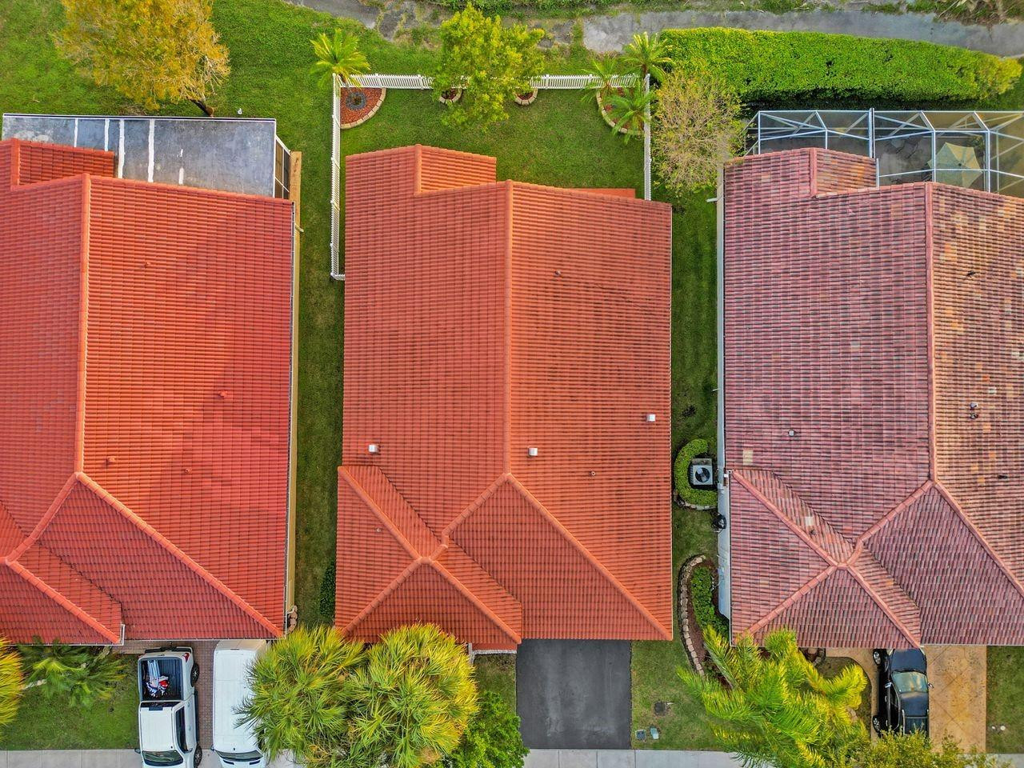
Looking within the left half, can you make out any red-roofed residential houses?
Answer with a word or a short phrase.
Yes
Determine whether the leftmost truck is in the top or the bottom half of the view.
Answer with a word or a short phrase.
bottom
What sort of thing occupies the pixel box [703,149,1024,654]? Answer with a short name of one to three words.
house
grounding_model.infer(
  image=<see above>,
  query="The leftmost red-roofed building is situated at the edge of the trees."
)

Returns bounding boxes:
[0,138,312,644]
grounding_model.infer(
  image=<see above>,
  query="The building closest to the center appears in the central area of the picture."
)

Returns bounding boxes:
[332,142,674,646]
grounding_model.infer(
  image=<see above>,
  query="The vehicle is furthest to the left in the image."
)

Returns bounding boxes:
[133,643,203,768]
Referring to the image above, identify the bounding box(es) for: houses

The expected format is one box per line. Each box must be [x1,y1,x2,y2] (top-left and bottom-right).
[703,149,1024,654]
[0,138,312,644]
[332,142,674,646]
